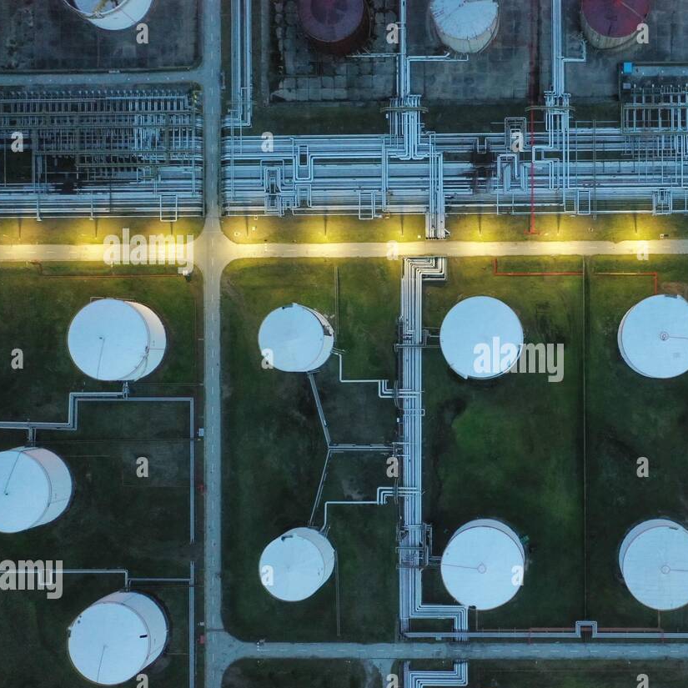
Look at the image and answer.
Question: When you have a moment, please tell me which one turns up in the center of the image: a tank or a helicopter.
tank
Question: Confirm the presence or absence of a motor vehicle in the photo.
No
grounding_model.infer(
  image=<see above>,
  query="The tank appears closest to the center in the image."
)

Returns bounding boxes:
[257,305,336,374]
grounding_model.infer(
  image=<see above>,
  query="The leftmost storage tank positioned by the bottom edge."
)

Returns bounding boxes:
[65,586,171,685]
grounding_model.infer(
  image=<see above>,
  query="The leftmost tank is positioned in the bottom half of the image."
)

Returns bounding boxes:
[0,442,76,532]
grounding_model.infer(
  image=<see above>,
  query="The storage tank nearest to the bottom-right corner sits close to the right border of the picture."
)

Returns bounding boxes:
[616,517,688,610]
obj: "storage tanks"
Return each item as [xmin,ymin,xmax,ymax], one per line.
[615,294,688,379]
[298,0,373,56]
[67,298,168,383]
[257,305,336,374]
[65,586,171,685]
[431,0,502,55]
[440,517,526,610]
[616,517,688,610]
[439,295,525,380]
[258,524,337,601]
[577,0,651,51]
[64,0,155,33]
[0,442,76,532]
